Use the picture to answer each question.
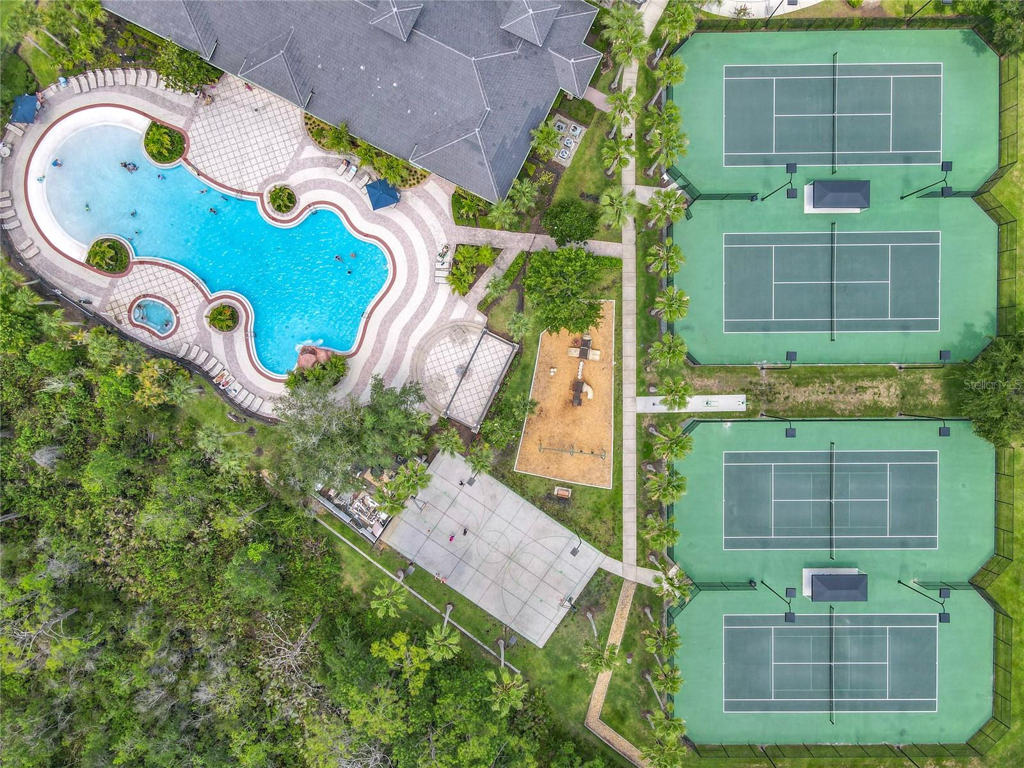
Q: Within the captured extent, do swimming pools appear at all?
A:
Yes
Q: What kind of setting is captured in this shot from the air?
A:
sports ground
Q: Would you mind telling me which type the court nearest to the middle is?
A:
basketball court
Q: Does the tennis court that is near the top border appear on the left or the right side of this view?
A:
right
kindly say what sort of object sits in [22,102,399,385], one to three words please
swimming pool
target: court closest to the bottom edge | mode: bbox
[673,581,994,745]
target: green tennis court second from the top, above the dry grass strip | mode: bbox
[673,195,999,365]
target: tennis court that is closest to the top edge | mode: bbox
[673,30,999,197]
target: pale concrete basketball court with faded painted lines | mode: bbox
[380,450,599,648]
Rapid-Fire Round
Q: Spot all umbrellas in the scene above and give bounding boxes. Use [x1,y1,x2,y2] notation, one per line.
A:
[366,179,400,211]
[12,96,44,124]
